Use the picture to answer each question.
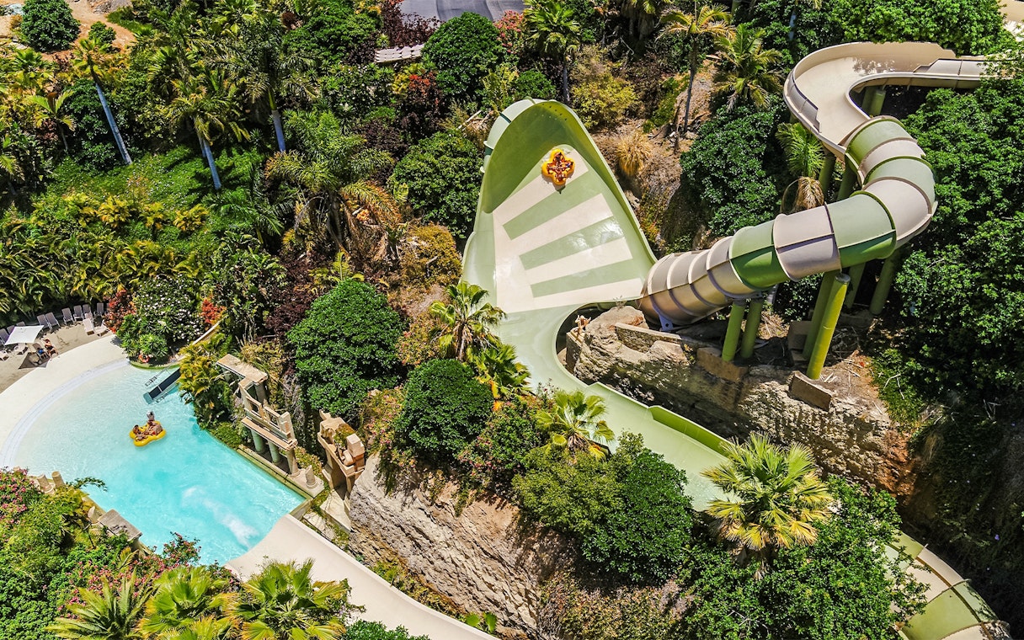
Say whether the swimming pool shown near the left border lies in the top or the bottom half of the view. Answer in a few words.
bottom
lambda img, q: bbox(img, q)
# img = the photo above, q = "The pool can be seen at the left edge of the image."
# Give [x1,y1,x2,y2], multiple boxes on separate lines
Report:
[0,356,294,562]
